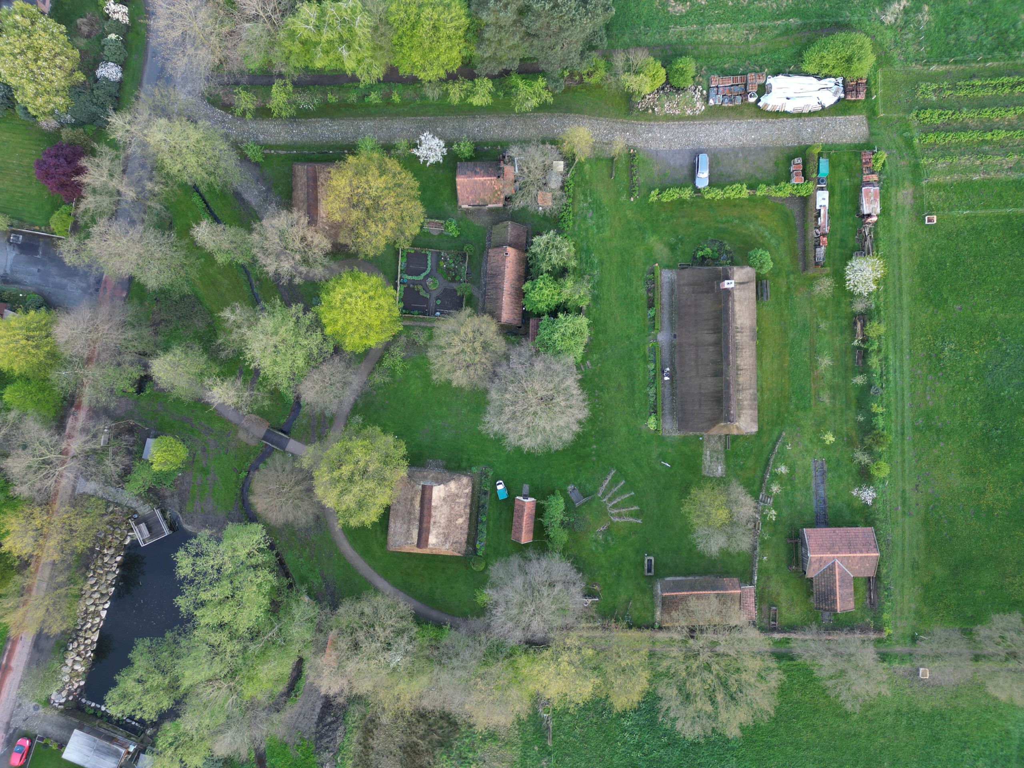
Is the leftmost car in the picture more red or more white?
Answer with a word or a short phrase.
red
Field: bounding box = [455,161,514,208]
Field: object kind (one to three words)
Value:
house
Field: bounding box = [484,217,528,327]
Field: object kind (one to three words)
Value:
barn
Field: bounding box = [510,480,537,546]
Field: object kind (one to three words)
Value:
shed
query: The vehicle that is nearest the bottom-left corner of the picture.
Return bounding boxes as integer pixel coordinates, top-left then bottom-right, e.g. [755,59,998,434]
[8,732,35,768]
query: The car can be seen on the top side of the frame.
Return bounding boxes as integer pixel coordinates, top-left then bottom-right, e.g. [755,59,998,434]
[693,152,711,190]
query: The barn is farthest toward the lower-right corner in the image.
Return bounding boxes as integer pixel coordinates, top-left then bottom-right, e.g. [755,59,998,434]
[795,524,882,615]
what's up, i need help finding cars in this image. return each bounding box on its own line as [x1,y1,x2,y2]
[693,152,711,190]
[8,732,35,768]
